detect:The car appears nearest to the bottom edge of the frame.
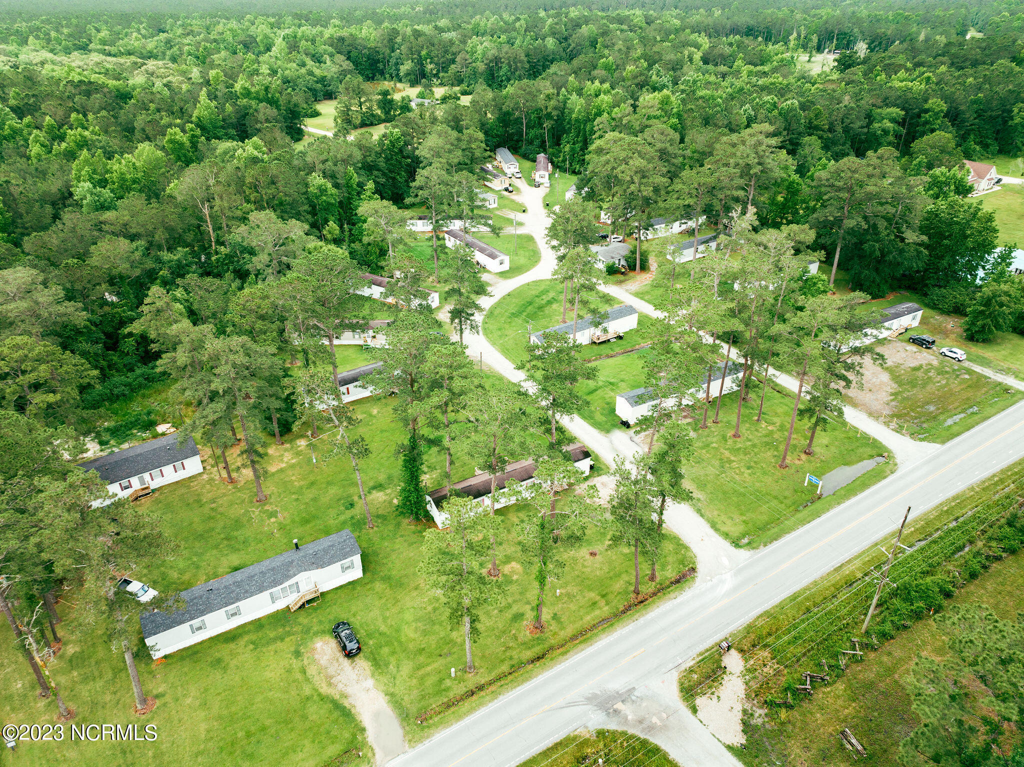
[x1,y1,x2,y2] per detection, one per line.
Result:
[333,620,362,661]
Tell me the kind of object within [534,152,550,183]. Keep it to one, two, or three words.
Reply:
house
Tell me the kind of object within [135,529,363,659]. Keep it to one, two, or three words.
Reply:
house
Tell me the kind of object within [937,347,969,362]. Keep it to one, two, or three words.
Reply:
car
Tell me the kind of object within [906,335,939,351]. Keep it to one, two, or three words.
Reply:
car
